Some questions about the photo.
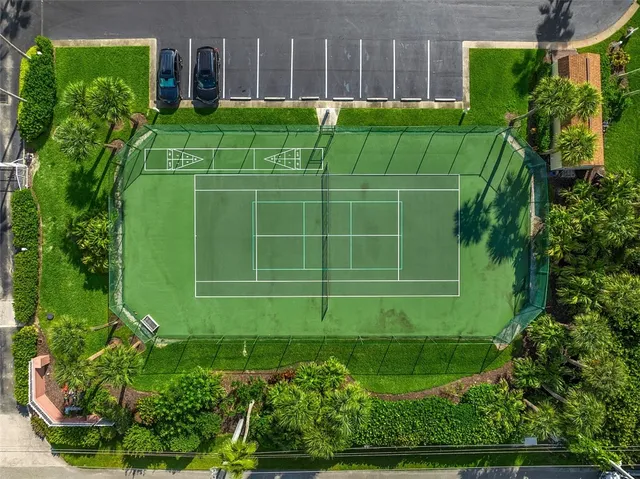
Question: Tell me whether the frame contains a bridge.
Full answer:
No, the picture doesn't show any bridge.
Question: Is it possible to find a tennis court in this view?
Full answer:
Yes, I can see a tennis court in this picture.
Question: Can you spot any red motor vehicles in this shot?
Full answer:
No, no red motor vehicle is visible in the scene.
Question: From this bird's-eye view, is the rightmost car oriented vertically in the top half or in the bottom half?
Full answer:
You can find the rightmost car oriented vertically in the top half.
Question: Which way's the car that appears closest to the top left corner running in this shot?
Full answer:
From this overhead view, the car that appears closest to the top left corner appears to run from top to bottom.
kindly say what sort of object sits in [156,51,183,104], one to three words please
car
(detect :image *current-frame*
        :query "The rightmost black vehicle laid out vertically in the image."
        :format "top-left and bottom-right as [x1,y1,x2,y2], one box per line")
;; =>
[192,48,220,108]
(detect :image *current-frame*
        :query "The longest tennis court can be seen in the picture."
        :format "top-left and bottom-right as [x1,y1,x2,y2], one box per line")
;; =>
[123,134,534,337]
